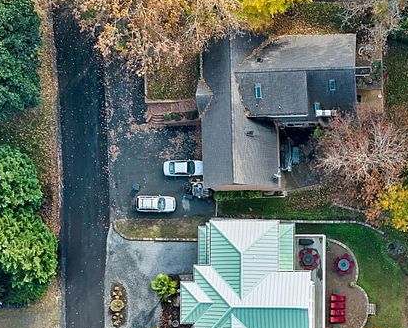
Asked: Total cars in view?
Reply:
2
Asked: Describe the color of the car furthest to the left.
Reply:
white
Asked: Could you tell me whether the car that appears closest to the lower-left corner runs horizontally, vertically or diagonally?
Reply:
horizontally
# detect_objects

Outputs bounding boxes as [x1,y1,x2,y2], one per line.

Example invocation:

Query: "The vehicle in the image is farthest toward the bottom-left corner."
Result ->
[133,193,179,215]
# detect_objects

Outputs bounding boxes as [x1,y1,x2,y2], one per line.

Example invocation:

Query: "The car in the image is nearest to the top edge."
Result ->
[162,157,204,179]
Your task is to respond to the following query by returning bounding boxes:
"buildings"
[196,20,372,195]
[179,220,328,328]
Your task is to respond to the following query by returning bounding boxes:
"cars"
[133,193,179,215]
[162,157,204,179]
